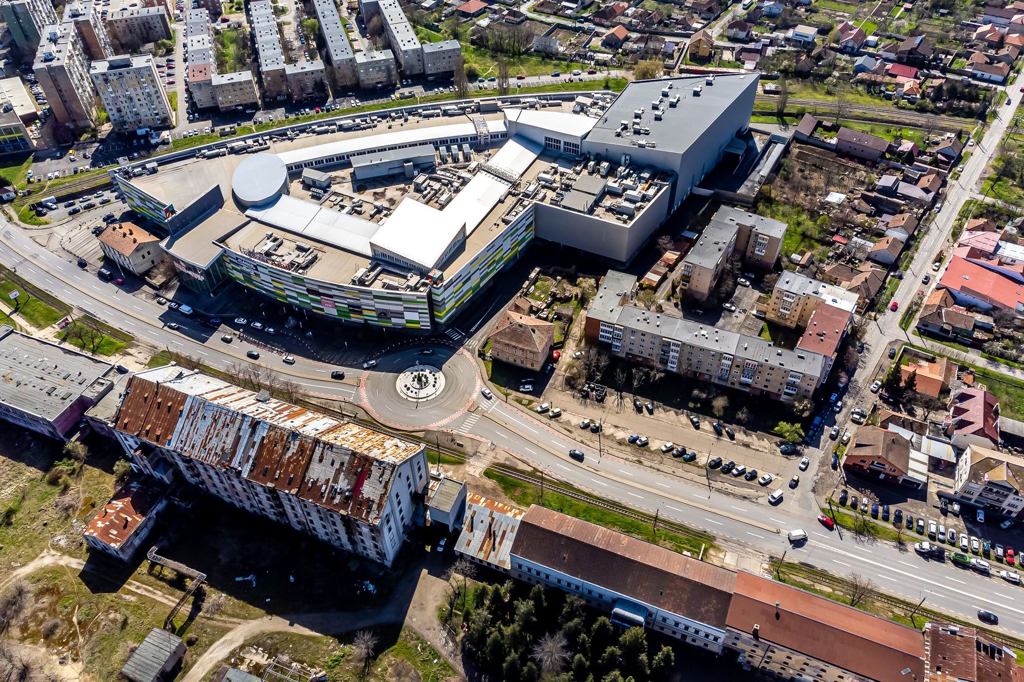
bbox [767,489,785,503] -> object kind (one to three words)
vehicle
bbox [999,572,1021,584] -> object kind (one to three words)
vehicle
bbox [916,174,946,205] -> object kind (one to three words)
house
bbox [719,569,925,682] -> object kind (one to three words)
warehouse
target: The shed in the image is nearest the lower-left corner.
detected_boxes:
[121,627,188,682]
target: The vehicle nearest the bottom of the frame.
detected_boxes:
[978,612,998,624]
